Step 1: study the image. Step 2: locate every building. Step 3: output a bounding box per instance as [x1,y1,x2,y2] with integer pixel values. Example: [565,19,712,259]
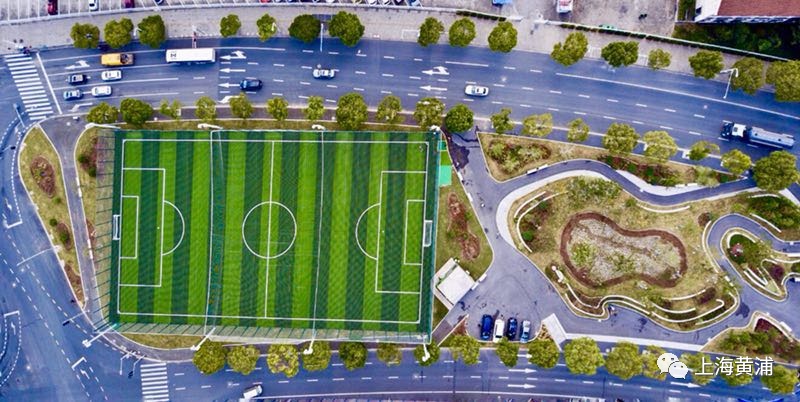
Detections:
[701,0,800,20]
[438,264,474,301]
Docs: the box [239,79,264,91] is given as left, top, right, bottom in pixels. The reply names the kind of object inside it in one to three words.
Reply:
vehicle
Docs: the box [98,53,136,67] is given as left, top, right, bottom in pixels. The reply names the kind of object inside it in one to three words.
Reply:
vehicle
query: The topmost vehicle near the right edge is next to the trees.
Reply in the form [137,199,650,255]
[719,123,797,149]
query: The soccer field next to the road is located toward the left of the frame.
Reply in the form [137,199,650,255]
[109,130,440,334]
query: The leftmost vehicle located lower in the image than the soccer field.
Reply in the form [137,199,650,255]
[241,383,265,400]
